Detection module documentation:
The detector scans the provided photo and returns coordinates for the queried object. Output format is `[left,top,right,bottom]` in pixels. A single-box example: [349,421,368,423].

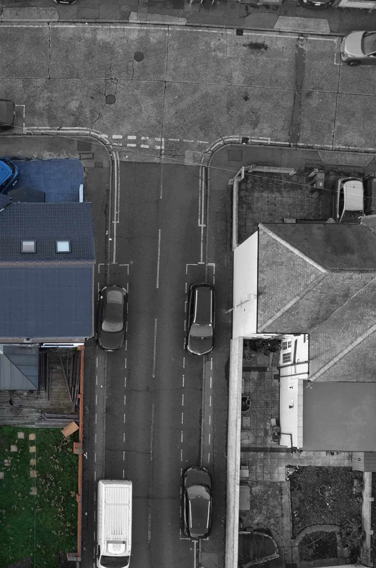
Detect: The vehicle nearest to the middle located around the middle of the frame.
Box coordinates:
[182,282,219,358]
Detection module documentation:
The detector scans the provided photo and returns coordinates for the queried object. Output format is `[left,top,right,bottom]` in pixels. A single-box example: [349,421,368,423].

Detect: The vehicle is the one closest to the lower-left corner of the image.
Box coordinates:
[95,478,134,568]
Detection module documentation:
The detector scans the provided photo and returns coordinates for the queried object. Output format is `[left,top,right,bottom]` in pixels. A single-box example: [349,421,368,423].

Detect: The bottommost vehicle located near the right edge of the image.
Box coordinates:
[331,173,367,223]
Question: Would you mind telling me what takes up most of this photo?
paved ground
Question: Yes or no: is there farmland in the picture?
No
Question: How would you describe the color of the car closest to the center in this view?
black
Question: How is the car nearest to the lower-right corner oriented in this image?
up and down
